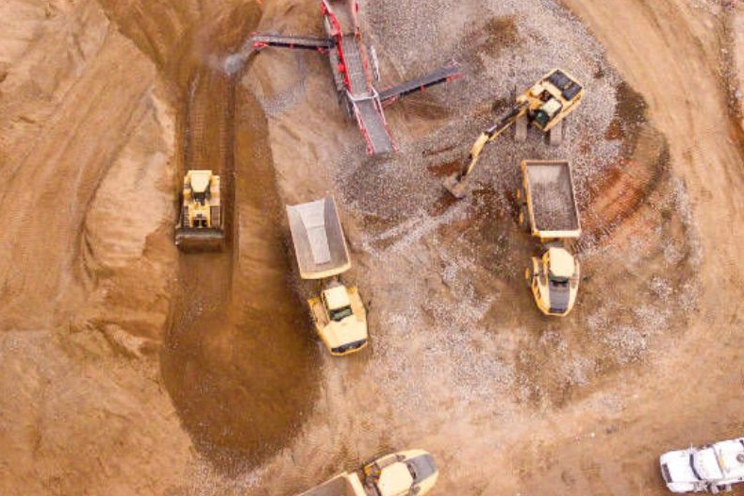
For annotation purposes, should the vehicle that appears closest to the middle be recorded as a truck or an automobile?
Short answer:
truck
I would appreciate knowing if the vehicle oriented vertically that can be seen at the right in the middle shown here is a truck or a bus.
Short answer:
truck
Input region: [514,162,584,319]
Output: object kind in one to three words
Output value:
truck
